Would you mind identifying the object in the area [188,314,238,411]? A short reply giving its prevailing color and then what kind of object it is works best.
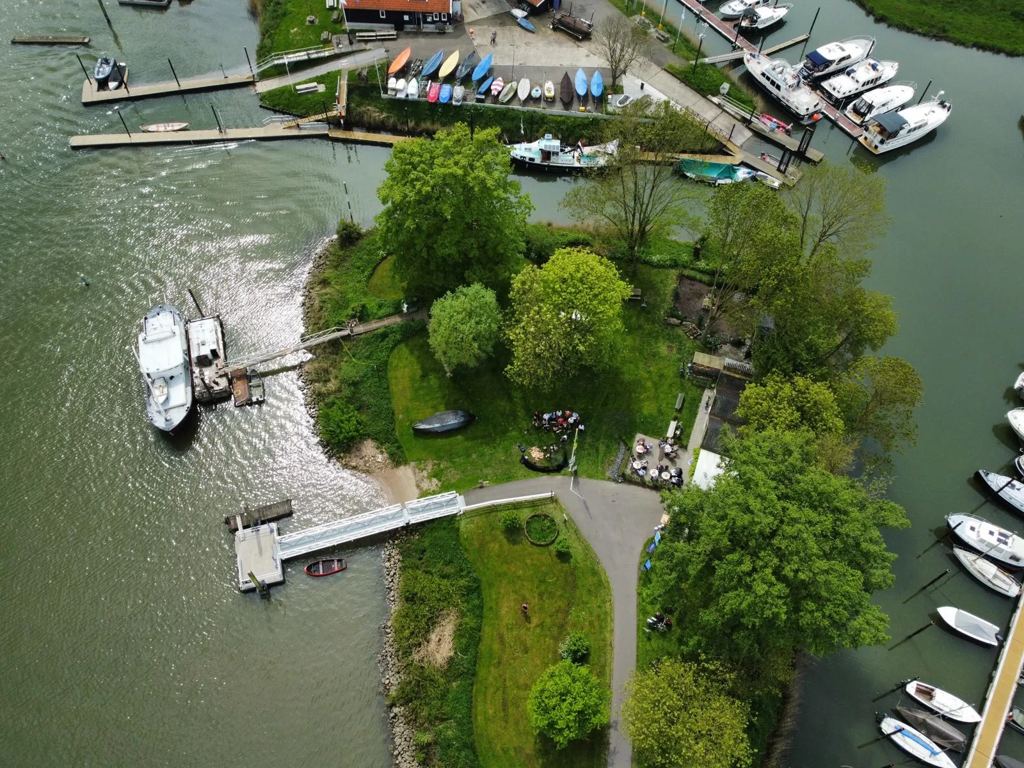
white ship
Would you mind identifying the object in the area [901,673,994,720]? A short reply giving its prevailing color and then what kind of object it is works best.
white boat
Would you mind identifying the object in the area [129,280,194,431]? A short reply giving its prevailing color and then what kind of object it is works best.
white vessel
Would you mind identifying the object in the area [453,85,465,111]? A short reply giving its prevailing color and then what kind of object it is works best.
white boat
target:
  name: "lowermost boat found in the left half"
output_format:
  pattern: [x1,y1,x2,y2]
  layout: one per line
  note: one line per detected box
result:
[304,554,348,578]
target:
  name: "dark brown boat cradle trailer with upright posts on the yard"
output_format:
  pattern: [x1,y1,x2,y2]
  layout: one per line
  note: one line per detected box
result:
[549,2,595,44]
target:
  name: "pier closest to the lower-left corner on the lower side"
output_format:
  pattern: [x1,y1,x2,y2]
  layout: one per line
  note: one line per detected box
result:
[235,511,285,594]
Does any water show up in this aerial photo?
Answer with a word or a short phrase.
Yes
